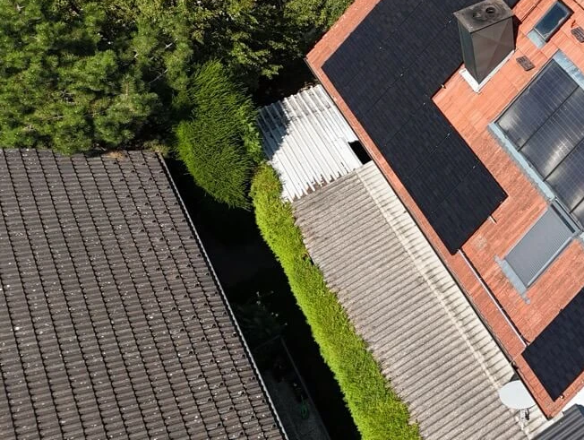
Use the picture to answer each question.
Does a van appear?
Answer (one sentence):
No, there appears to be no van in this shot.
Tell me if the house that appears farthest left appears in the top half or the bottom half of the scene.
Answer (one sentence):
The bottom half of the photo is where the house that appears farthest left is.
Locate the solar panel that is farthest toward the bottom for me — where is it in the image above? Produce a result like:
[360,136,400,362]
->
[522,294,584,397]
